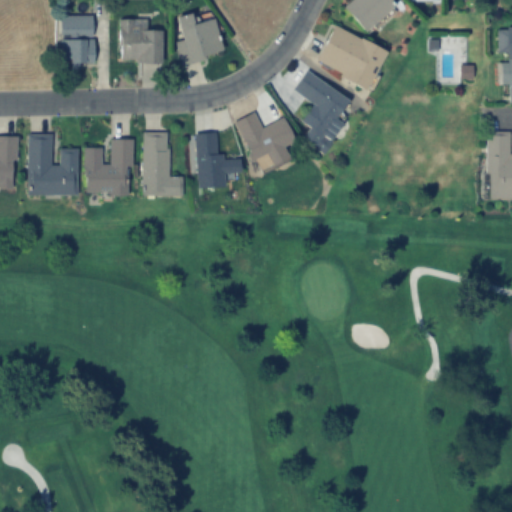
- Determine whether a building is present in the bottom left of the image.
No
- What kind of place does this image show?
golf course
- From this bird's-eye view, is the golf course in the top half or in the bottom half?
bottom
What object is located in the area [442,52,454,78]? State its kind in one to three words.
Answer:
swimming pool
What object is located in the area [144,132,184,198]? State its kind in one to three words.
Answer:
house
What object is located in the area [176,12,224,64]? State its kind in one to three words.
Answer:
house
